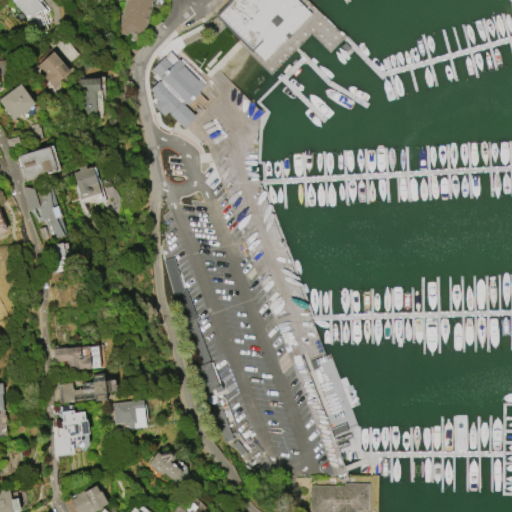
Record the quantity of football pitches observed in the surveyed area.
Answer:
0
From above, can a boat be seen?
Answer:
Yes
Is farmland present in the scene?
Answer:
No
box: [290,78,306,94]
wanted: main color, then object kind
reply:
white boat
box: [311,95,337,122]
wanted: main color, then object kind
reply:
white boat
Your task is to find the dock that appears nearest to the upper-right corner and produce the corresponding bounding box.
[344,12,512,97]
